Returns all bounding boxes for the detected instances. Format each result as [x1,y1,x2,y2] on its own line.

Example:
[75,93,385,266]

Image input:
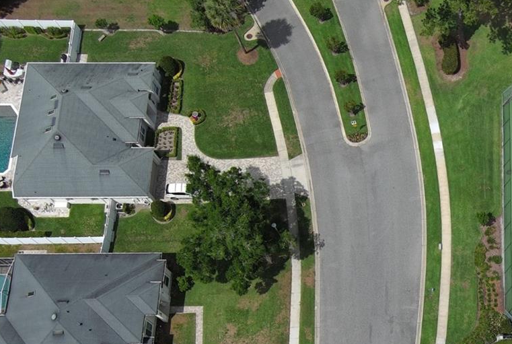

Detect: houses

[0,251,176,344]
[11,61,164,205]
